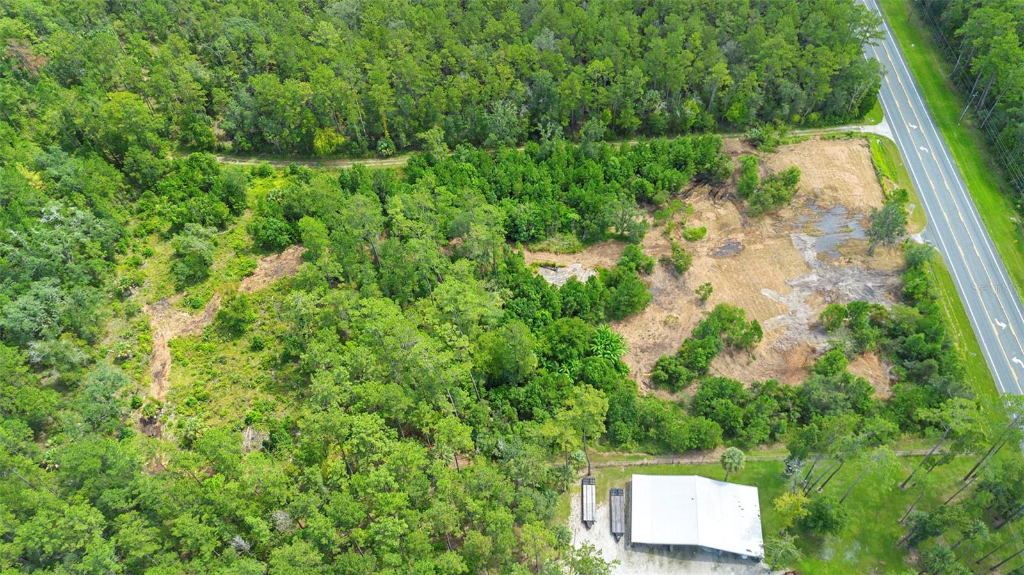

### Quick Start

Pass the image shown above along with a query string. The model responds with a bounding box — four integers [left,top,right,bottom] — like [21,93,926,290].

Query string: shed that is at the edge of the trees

[631,475,765,562]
